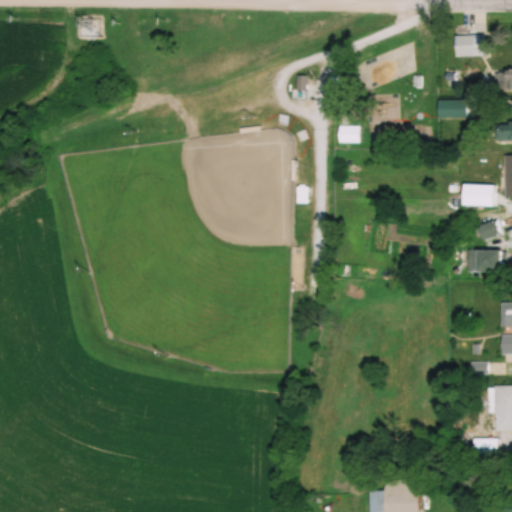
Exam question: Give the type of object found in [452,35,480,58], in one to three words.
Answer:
house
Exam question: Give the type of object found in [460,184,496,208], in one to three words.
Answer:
building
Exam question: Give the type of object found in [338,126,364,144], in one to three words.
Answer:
building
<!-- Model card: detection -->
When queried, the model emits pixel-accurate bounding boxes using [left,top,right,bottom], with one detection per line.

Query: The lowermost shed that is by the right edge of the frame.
[472,438,500,450]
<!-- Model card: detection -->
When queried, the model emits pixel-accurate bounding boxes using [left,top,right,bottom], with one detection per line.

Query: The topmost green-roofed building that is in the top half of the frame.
[436,100,468,118]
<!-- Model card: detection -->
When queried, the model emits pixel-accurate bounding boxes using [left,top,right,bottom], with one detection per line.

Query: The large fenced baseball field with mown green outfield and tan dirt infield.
[62,132,306,374]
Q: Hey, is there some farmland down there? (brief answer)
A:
Yes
